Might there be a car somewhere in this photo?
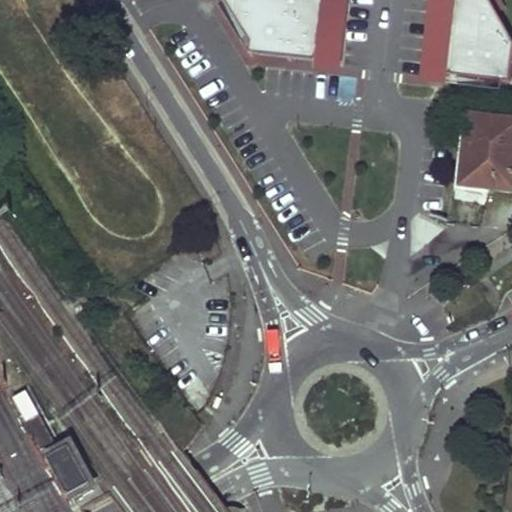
Yes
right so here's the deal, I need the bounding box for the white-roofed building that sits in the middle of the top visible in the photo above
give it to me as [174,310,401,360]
[219,0,349,70]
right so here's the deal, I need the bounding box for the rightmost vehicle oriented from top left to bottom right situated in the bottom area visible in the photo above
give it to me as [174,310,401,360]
[410,314,430,338]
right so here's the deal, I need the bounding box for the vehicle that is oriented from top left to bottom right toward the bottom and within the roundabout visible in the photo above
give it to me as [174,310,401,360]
[360,348,379,367]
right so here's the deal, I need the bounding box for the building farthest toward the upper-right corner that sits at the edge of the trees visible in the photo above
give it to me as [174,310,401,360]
[420,0,512,90]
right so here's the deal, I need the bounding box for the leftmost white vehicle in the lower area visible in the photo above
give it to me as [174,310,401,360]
[146,328,167,346]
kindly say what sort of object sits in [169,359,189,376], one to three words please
car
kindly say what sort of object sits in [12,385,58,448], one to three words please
building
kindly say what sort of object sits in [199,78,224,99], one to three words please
vehicle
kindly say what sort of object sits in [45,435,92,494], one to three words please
building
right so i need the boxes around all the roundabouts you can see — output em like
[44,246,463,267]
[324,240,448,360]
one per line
[264,334,418,474]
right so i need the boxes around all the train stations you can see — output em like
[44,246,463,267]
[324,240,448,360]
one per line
[0,384,72,512]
